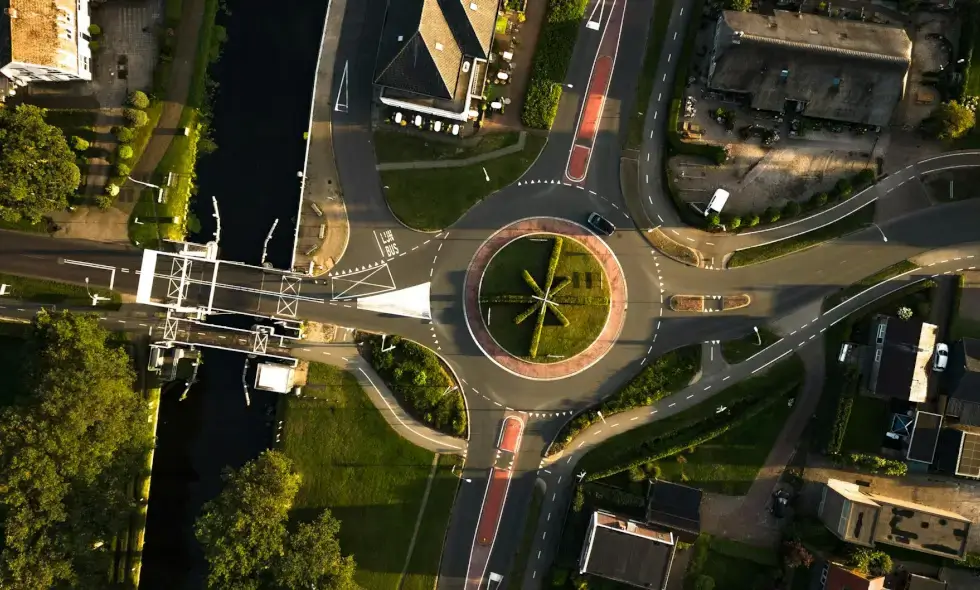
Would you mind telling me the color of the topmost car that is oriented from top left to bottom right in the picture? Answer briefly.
black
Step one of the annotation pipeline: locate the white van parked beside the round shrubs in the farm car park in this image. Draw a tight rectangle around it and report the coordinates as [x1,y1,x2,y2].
[706,186,731,216]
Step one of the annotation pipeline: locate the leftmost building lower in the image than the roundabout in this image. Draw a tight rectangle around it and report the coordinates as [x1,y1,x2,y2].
[575,511,672,590]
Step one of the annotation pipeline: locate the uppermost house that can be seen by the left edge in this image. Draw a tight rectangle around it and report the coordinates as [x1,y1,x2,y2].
[0,0,93,83]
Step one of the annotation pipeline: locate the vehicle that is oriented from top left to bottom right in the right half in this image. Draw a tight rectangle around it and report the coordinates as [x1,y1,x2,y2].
[587,211,616,235]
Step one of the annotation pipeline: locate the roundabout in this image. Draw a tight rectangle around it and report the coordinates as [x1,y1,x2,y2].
[463,217,627,380]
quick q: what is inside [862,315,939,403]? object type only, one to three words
house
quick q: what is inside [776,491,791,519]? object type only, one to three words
car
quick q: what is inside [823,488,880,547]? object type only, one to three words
building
